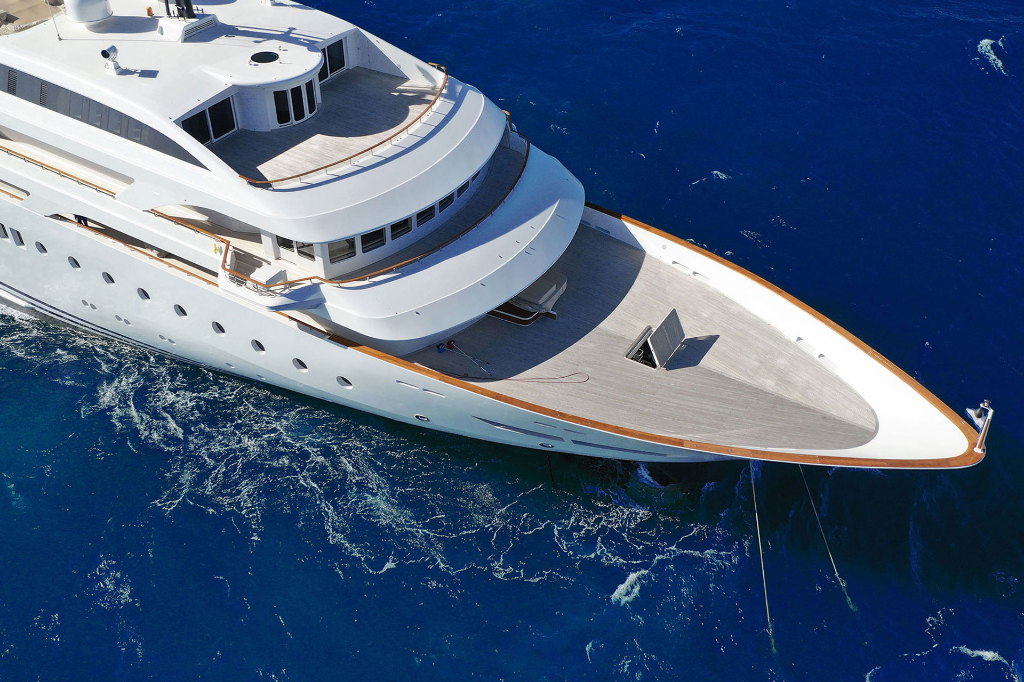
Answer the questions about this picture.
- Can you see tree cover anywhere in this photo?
No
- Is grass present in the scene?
No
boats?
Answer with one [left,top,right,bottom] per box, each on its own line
[0,0,994,474]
